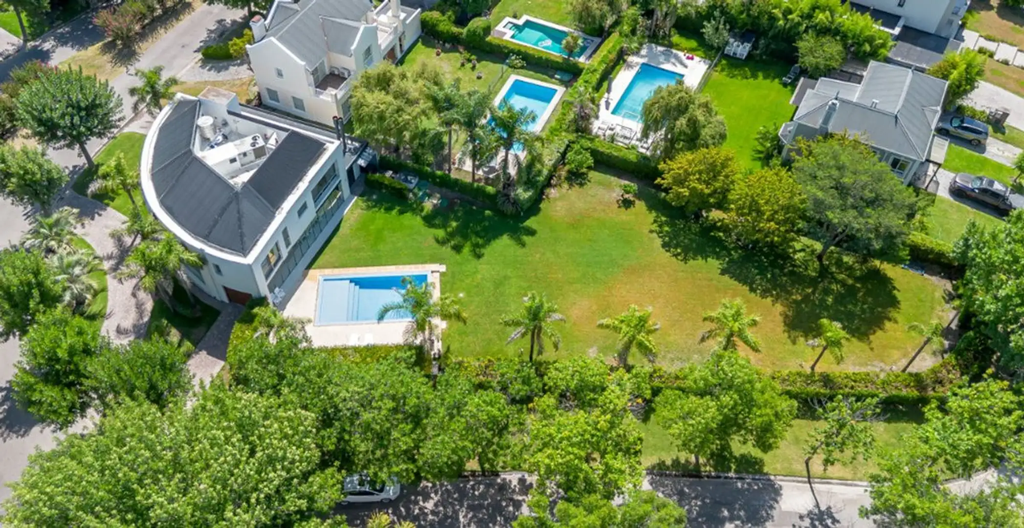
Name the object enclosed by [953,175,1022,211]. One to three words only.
truck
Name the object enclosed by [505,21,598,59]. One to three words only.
swimming pool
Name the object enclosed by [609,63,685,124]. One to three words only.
swimming pool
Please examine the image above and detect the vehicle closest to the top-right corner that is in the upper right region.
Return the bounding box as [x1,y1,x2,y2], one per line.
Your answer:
[936,115,993,147]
